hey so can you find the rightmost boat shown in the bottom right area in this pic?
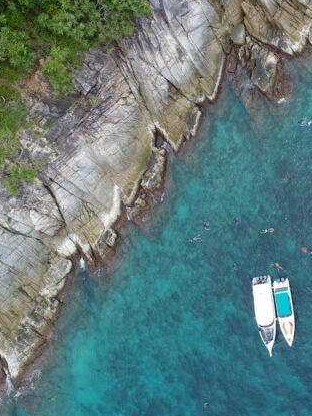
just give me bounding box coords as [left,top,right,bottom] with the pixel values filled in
[274,278,294,346]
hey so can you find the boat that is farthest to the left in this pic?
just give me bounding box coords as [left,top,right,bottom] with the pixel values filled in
[253,276,278,357]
